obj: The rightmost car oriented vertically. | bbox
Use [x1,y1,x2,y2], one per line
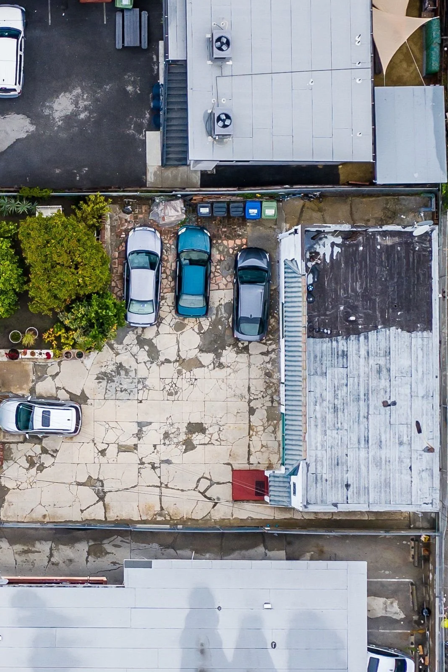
[232,247,280,342]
